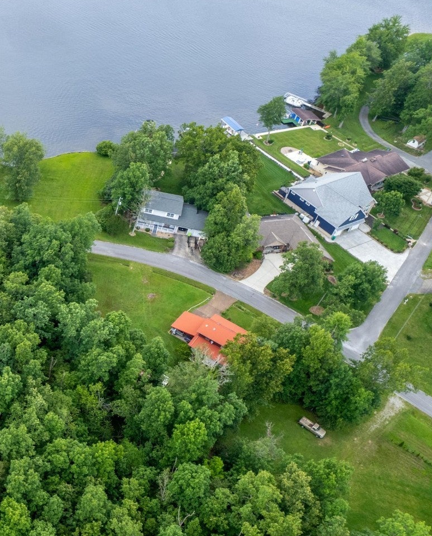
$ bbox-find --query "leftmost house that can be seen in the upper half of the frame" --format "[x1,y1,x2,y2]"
[137,190,209,239]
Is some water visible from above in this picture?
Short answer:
Yes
